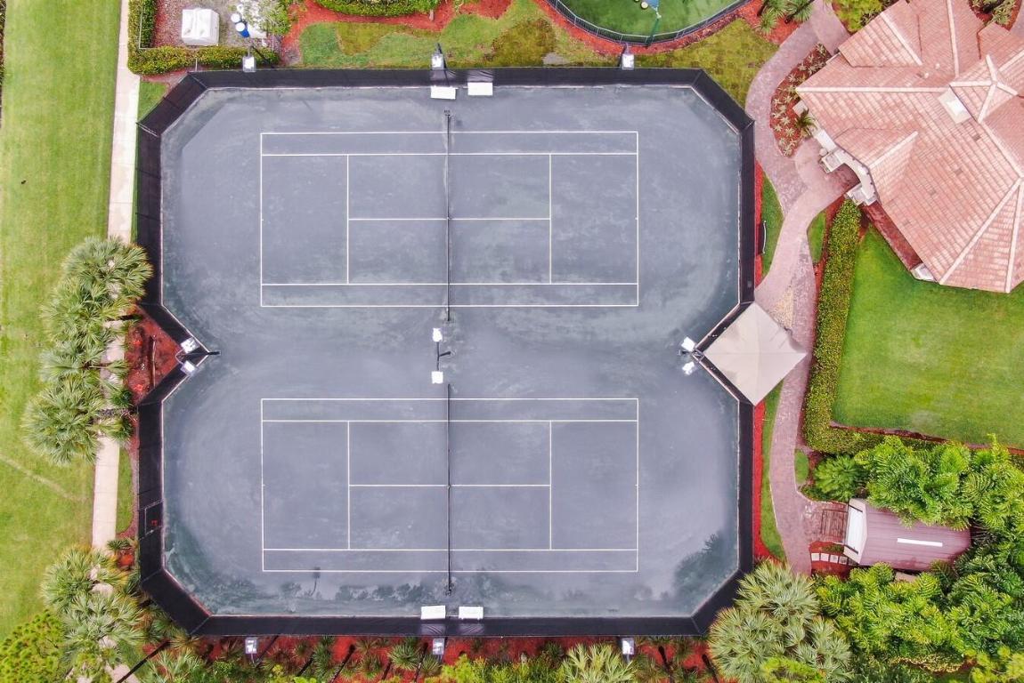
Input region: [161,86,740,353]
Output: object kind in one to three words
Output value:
tennis court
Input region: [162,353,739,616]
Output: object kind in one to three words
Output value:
tennis court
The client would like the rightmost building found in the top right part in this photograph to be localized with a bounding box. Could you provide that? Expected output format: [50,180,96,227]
[796,0,1024,293]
